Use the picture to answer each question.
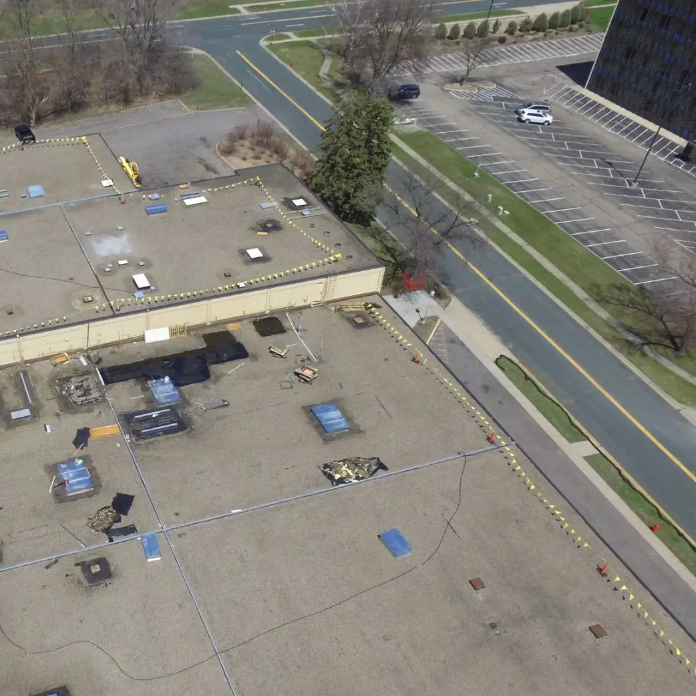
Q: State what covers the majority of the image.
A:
buildings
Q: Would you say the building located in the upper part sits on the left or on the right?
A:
right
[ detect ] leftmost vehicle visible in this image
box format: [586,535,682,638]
[11,126,39,142]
